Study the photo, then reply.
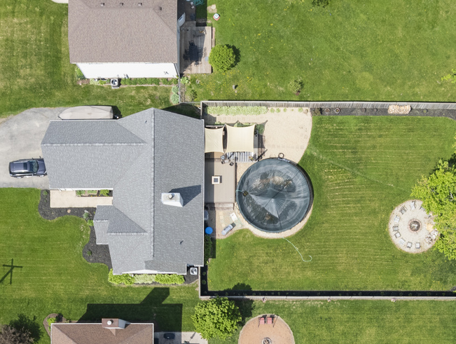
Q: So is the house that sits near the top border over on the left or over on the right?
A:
left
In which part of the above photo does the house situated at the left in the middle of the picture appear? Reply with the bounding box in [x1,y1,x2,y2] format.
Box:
[42,108,204,275]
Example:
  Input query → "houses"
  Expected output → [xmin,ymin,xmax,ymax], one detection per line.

[51,315,156,344]
[42,108,204,275]
[67,0,178,77]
